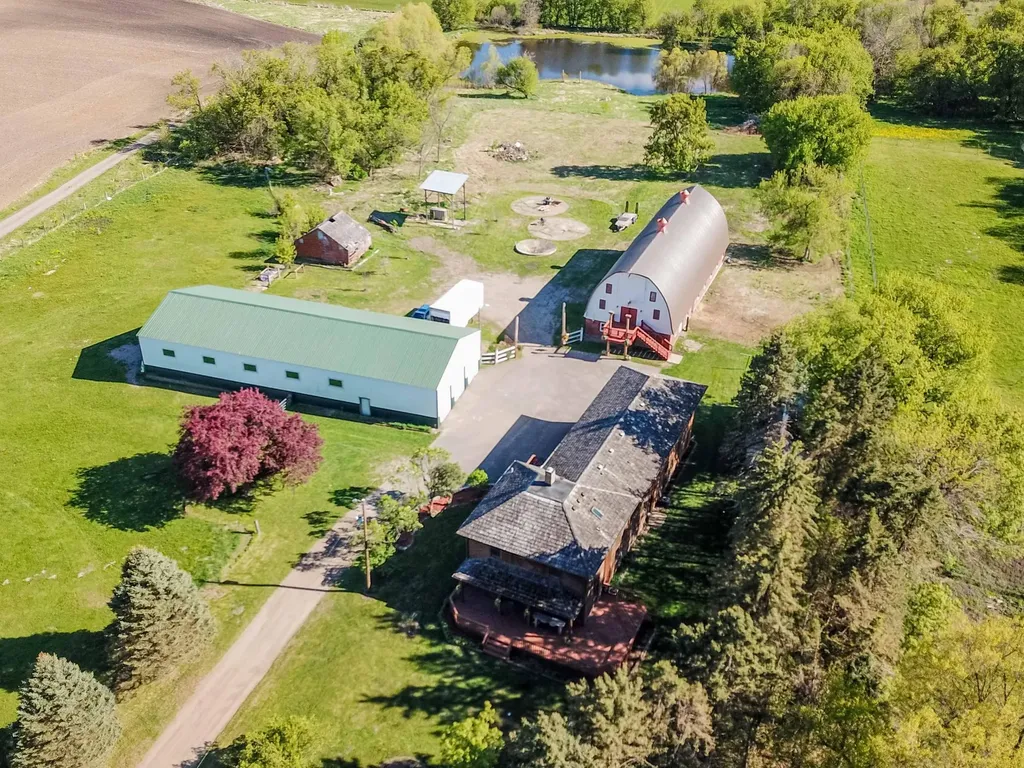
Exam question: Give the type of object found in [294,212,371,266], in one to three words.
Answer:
shed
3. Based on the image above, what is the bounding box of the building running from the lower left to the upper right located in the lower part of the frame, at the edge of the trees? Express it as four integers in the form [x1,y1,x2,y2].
[448,365,707,634]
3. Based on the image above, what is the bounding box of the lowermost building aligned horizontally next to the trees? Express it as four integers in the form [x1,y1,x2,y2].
[133,288,480,427]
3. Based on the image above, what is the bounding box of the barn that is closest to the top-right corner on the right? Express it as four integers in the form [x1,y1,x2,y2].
[583,183,730,362]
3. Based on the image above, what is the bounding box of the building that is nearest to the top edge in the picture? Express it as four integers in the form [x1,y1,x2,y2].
[420,171,468,229]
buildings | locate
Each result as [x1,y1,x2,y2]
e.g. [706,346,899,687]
[583,183,730,362]
[420,171,468,229]
[448,365,707,634]
[133,288,480,427]
[294,212,371,266]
